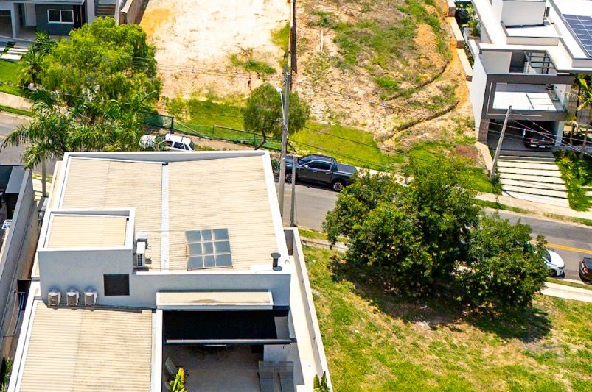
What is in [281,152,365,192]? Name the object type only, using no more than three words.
truck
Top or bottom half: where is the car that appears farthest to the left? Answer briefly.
top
